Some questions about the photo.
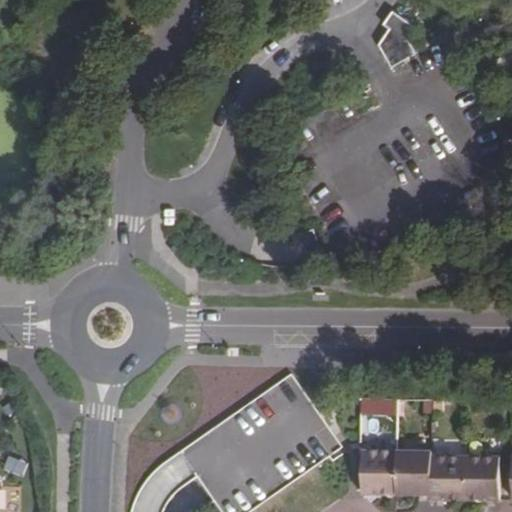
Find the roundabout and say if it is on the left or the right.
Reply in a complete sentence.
It is on the left.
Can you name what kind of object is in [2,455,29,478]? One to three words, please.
shed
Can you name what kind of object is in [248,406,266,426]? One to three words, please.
car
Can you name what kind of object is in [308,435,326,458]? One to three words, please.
car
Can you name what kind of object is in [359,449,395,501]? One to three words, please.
house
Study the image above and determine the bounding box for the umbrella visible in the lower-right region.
[468,440,482,453]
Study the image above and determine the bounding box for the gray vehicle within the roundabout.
[120,355,140,374]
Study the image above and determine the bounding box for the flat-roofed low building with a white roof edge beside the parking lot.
[378,10,416,70]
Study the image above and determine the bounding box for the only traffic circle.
[50,265,170,384]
